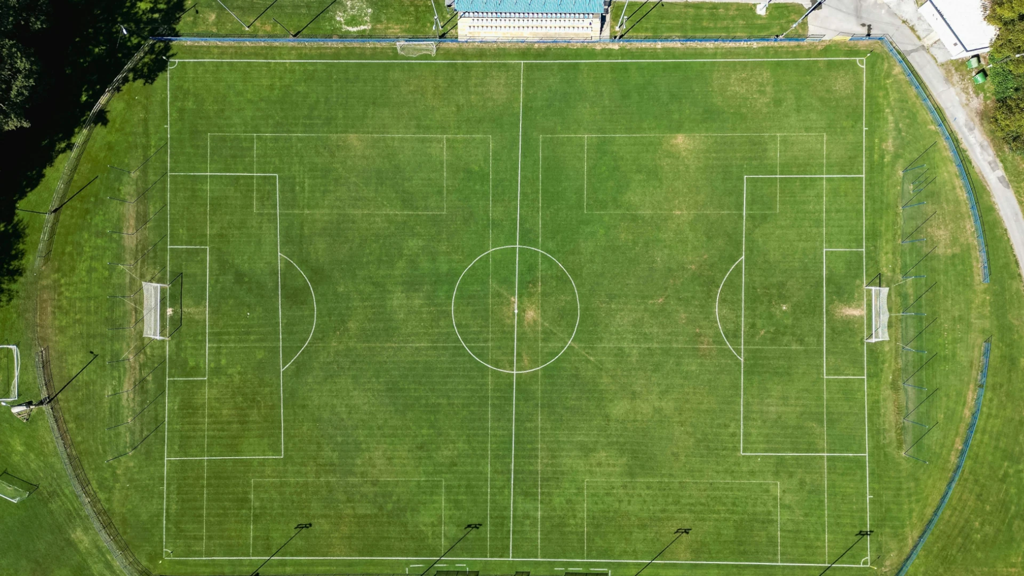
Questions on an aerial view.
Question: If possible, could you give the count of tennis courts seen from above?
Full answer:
The count of tennis courts is 0.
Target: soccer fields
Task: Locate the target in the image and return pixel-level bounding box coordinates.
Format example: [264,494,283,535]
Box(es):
[151,50,881,576]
